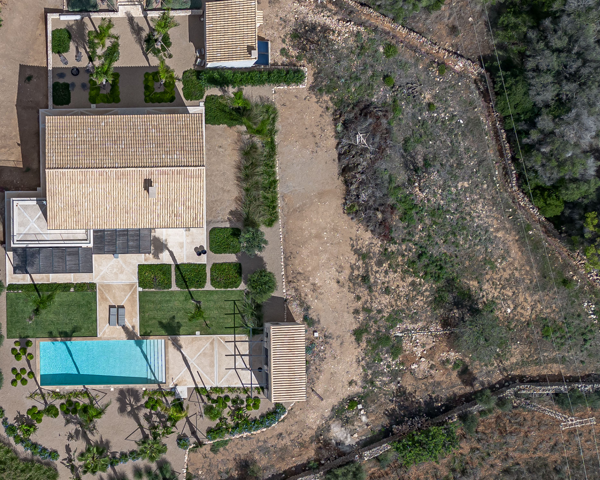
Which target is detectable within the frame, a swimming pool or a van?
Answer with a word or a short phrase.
swimming pool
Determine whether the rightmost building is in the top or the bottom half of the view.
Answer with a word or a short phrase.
bottom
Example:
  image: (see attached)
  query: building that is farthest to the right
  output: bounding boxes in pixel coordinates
[266,324,306,403]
